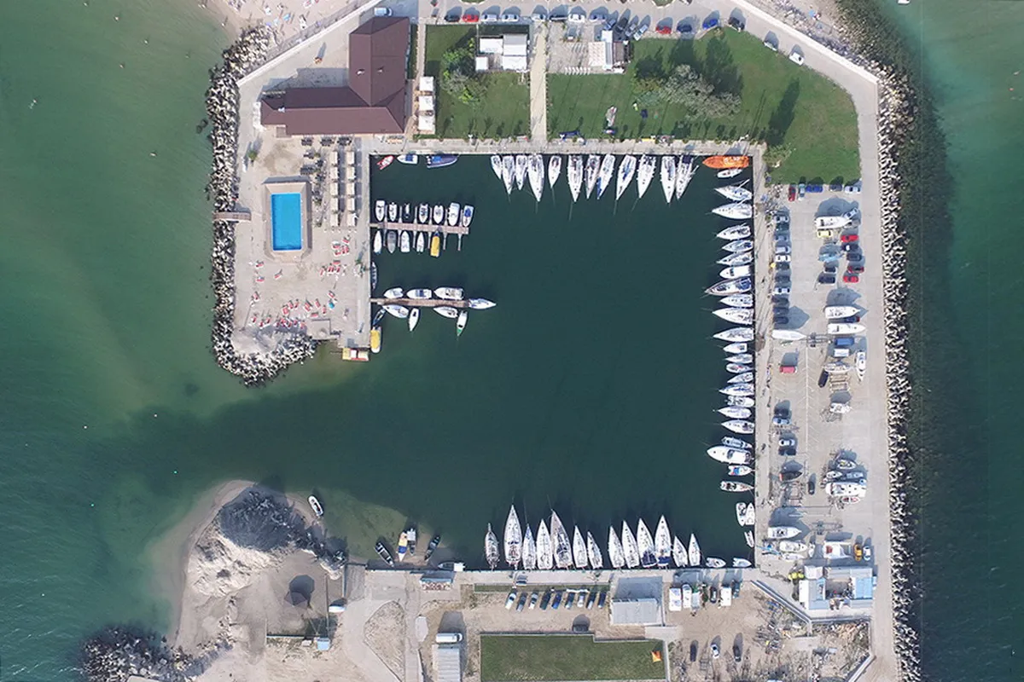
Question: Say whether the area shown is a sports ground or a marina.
marina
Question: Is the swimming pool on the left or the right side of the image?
left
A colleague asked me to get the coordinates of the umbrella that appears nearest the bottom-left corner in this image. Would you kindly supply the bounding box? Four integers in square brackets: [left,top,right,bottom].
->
[283,591,304,613]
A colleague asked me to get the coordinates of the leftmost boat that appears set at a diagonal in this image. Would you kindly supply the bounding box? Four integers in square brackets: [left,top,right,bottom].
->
[307,495,325,517]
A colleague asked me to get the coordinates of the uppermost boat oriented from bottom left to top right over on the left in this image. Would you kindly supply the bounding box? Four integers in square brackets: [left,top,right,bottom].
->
[378,156,393,170]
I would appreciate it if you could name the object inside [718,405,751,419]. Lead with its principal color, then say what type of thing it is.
white boat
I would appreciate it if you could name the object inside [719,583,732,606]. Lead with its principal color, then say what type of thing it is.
white vehicle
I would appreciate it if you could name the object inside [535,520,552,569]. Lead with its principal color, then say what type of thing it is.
white boat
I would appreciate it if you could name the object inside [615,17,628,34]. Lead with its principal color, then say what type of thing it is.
black vehicle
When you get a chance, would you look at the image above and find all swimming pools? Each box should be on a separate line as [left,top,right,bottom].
[263,182,317,263]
